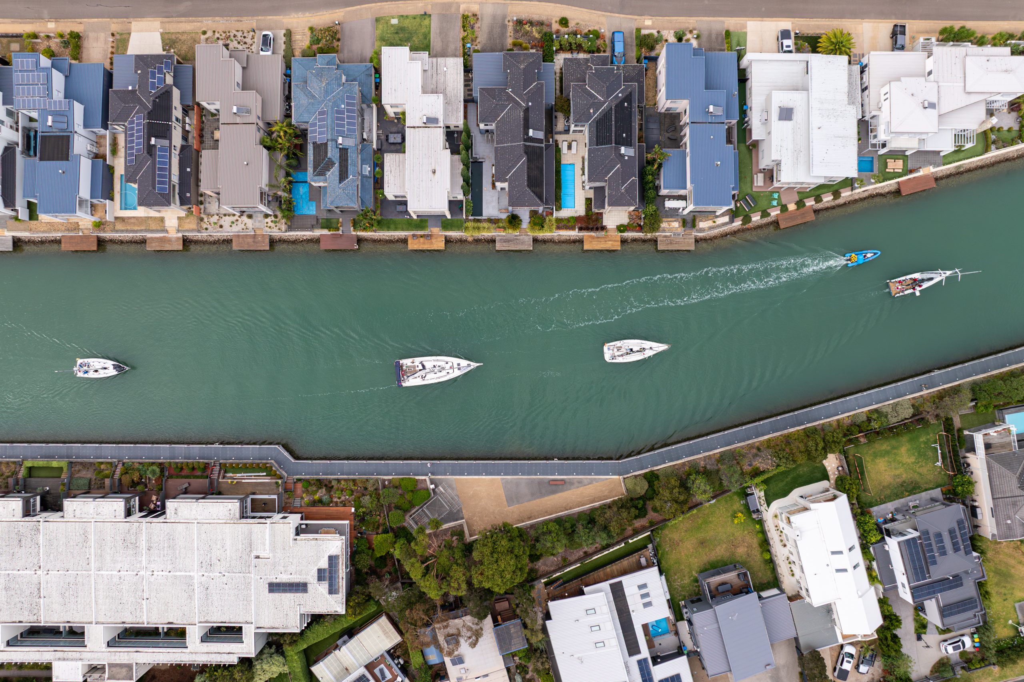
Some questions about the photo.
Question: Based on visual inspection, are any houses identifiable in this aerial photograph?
Yes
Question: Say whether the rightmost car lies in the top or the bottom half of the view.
bottom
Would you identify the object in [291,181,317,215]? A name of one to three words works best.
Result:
swimming pool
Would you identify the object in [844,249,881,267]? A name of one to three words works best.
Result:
boat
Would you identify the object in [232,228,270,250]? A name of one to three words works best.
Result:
pier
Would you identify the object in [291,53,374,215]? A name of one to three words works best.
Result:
house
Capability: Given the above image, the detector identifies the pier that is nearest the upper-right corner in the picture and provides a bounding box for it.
[898,166,936,196]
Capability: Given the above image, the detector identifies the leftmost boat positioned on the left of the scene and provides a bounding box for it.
[55,359,133,380]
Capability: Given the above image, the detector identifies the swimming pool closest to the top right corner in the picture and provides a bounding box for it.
[858,154,877,174]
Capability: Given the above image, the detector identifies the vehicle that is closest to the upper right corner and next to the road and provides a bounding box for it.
[889,20,909,51]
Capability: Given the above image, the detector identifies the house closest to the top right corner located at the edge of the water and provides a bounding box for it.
[857,36,1024,156]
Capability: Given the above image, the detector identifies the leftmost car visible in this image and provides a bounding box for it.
[258,31,275,54]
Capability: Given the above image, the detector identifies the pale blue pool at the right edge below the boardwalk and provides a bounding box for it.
[1002,409,1024,437]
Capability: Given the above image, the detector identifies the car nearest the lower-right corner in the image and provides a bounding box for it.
[938,633,972,655]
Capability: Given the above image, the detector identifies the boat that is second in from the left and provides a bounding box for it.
[395,355,483,387]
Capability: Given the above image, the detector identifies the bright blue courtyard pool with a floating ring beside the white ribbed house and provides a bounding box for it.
[647,617,671,640]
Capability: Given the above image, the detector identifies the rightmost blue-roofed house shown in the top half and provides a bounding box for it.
[659,42,739,215]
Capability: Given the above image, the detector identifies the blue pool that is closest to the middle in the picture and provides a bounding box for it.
[561,161,577,210]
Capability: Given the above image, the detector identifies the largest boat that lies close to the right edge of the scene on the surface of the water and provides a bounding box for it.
[886,267,981,298]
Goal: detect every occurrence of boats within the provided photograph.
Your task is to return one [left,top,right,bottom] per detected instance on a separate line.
[395,355,483,387]
[55,359,133,380]
[844,249,881,267]
[886,267,981,298]
[602,337,671,362]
